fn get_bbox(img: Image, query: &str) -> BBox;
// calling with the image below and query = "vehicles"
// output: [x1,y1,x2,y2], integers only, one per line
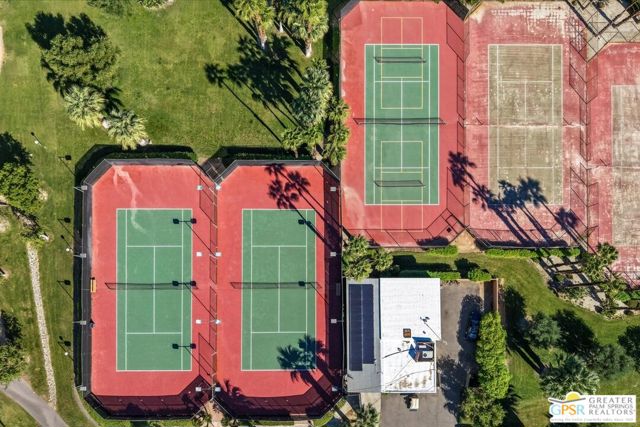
[467,311,481,341]
[411,398,421,413]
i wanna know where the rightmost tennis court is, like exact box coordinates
[587,43,640,287]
